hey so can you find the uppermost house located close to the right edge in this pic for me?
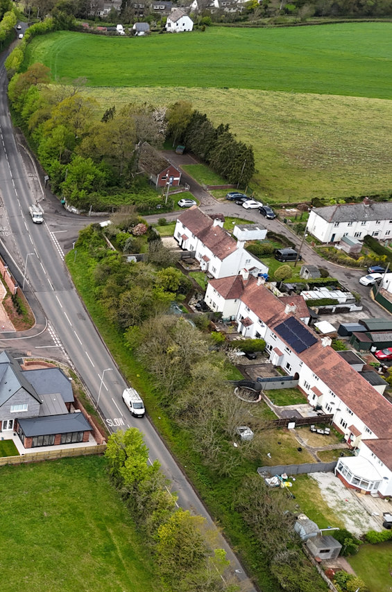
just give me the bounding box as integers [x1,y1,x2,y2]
[306,192,392,242]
